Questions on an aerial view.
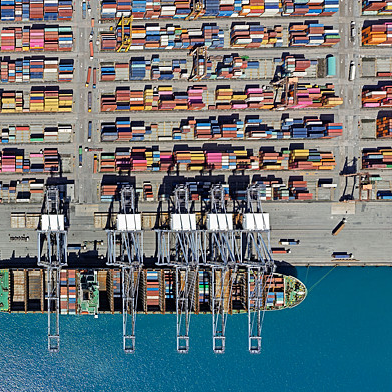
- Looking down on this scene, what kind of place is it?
port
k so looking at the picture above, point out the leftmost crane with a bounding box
[31,186,69,353]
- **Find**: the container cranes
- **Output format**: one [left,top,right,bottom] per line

[342,174,372,203]
[99,186,148,353]
[272,75,298,112]
[31,186,69,353]
[217,186,285,353]
[184,186,245,353]
[115,15,133,54]
[186,45,208,84]
[148,186,206,353]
